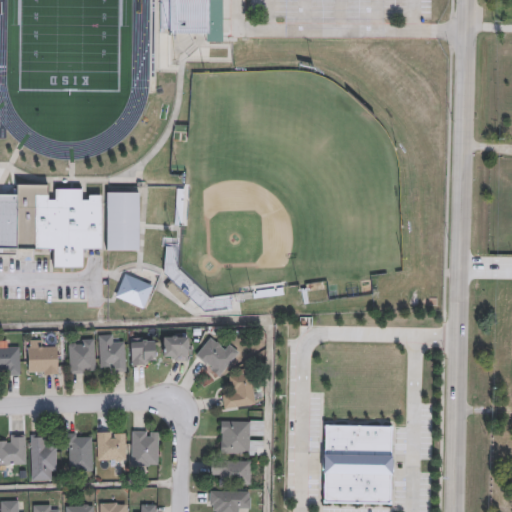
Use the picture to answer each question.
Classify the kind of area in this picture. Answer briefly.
sports ground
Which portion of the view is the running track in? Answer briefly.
top left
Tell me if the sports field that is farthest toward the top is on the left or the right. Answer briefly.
left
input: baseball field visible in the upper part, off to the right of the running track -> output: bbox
[178,69,402,297]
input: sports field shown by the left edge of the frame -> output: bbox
[7,0,133,142]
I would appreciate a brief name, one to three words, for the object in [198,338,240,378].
house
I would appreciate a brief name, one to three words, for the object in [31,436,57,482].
house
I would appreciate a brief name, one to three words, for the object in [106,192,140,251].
building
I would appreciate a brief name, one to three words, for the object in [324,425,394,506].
building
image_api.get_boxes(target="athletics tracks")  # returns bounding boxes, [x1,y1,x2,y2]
[0,0,150,159]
